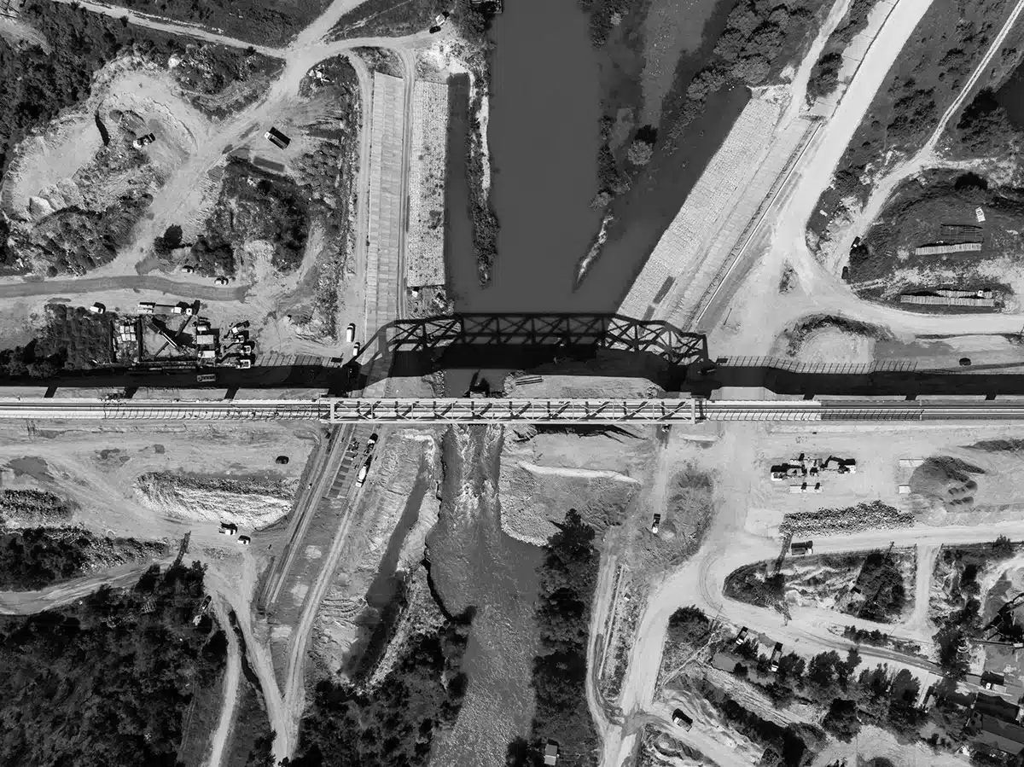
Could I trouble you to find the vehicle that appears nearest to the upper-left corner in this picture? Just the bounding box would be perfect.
[132,133,158,151]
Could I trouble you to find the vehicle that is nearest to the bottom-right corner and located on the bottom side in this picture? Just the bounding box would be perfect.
[982,677,1005,694]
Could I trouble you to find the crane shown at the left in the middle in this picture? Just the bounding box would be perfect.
[138,318,192,361]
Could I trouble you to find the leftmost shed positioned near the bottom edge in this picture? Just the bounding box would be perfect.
[542,737,559,762]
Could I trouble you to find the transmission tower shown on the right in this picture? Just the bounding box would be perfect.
[762,587,803,620]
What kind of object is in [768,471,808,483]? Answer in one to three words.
vehicle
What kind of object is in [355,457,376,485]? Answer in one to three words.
truck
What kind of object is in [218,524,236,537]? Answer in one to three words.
vehicle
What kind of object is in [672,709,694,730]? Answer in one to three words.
truck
